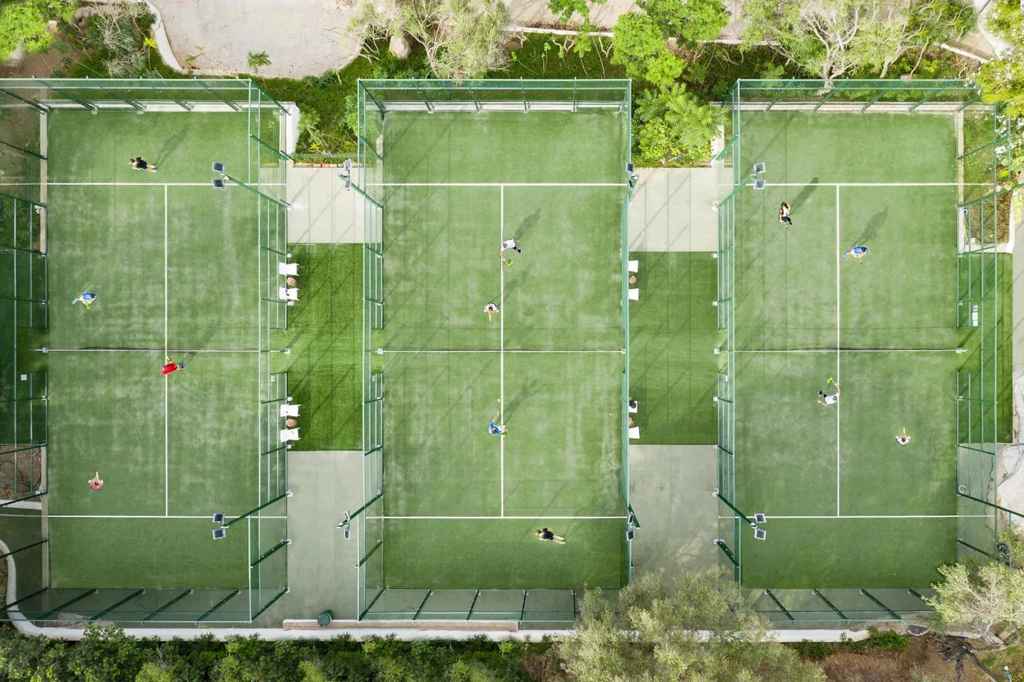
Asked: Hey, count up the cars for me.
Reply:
none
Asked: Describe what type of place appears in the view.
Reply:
sports ground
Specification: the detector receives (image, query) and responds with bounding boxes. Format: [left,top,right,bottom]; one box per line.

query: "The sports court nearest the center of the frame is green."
[382,110,623,589]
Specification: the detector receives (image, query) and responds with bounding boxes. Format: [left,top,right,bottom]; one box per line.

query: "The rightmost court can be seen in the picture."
[718,110,958,589]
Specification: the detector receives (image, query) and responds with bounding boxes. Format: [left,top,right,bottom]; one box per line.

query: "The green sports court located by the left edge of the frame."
[47,110,287,589]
